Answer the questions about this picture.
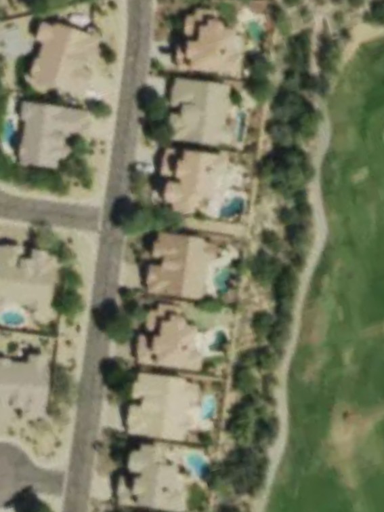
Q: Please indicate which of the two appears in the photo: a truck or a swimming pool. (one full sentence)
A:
There is a swimming pool in the scene.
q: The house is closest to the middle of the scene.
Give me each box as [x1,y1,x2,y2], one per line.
[143,232,207,299]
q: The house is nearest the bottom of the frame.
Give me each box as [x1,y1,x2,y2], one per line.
[115,444,185,511]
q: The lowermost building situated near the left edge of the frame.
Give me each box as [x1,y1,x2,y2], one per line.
[0,353,48,418]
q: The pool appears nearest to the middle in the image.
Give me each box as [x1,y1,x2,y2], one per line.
[214,268,232,296]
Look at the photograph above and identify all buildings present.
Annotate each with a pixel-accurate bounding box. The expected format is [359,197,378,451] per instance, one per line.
[132,310,197,370]
[17,98,91,165]
[175,16,245,76]
[115,444,185,511]
[24,17,100,92]
[0,353,48,418]
[143,232,207,299]
[128,375,199,442]
[167,77,236,145]
[0,247,55,316]
[165,148,225,211]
